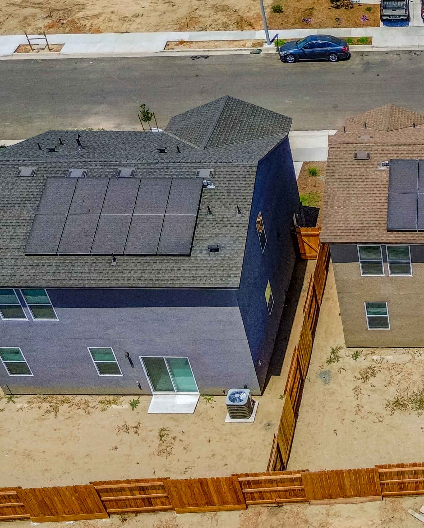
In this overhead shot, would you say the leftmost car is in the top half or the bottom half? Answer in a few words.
top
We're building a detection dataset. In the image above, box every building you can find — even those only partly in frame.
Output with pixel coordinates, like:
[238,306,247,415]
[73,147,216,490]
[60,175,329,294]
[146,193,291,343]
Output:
[321,103,424,347]
[0,96,302,396]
